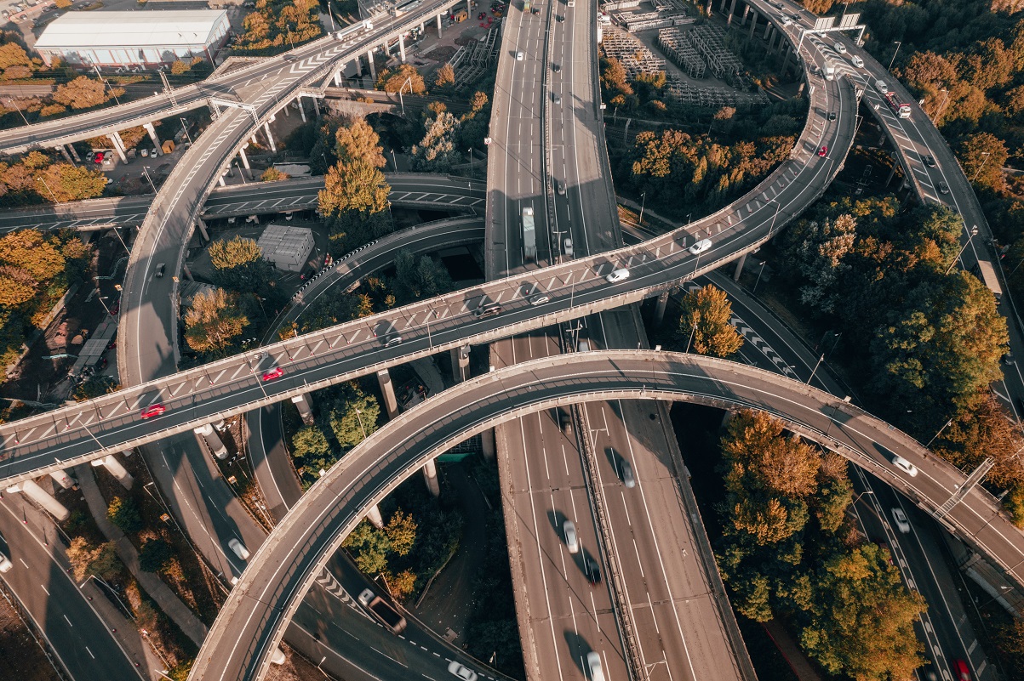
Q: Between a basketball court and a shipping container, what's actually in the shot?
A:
shipping container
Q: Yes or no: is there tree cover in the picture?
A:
Yes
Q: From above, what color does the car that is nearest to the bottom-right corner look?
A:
red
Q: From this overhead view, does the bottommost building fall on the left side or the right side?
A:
left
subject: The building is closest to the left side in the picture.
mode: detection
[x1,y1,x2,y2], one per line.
[37,11,231,63]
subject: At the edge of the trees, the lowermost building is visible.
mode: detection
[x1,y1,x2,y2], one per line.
[253,226,315,276]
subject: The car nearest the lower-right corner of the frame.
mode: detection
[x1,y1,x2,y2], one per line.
[952,657,973,681]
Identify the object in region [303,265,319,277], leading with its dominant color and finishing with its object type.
black vehicle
